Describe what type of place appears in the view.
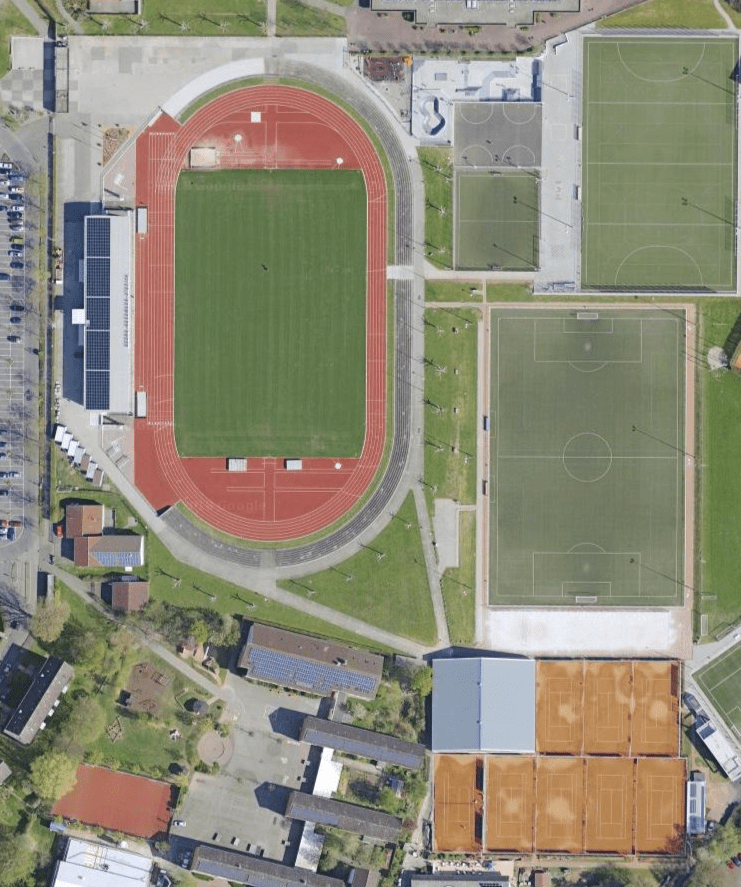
sports ground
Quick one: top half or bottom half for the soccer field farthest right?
bottom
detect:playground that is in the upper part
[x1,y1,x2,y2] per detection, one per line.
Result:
[363,57,404,81]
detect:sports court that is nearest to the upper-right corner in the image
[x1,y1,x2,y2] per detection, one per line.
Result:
[453,101,543,167]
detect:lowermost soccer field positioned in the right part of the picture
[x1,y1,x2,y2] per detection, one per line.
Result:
[691,641,741,738]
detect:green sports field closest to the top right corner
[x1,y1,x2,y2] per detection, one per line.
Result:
[582,37,739,291]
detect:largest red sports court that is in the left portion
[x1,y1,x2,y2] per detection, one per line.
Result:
[53,763,174,838]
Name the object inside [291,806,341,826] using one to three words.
solar panel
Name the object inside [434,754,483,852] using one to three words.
tennis court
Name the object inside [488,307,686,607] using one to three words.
soccer field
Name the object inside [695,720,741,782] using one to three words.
building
